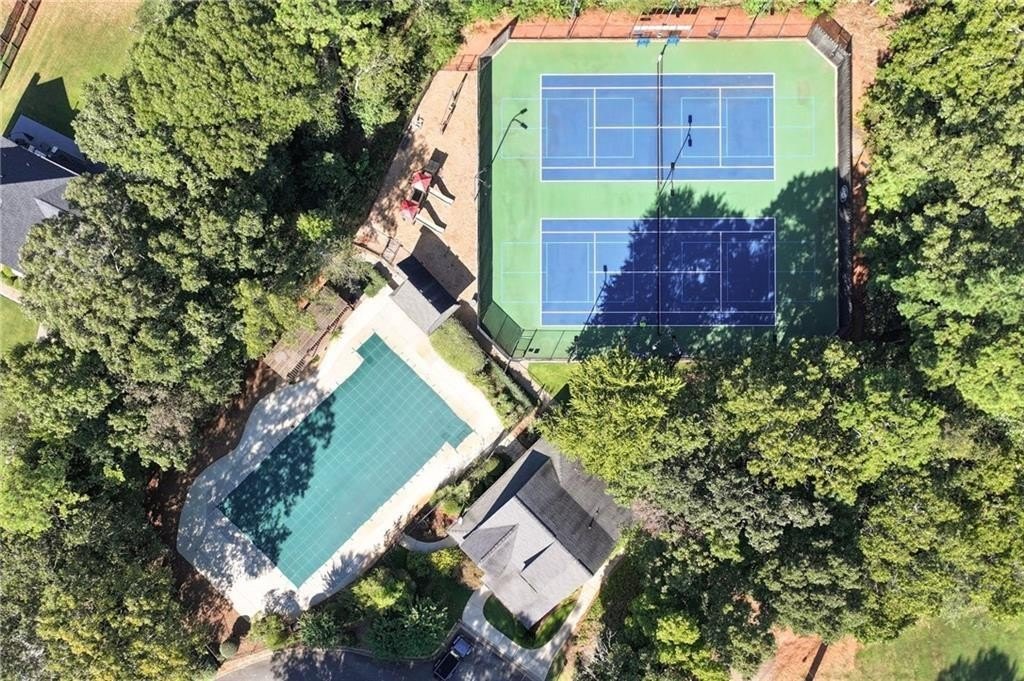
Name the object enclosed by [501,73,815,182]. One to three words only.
tennis court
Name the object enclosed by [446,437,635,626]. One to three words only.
building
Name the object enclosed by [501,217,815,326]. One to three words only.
tennis court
